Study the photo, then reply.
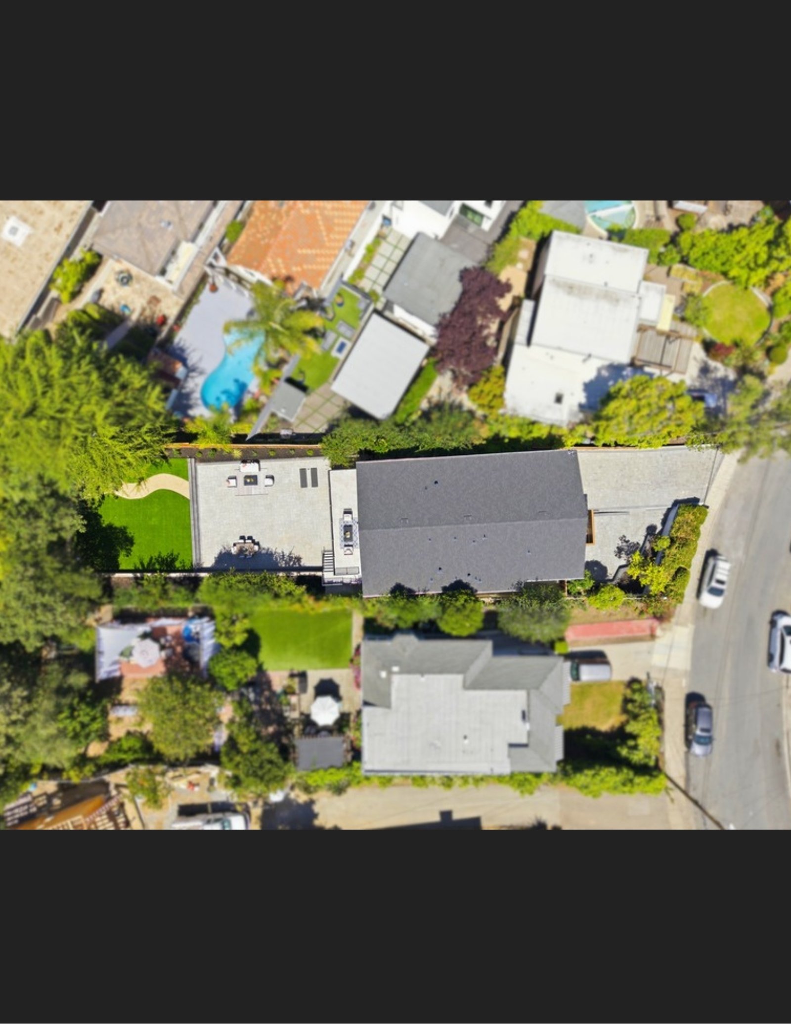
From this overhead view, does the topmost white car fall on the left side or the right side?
right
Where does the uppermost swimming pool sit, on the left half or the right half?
right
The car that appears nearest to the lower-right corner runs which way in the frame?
from top to bottom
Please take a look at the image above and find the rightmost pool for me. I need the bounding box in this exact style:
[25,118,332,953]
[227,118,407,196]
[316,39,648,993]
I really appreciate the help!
[584,199,639,232]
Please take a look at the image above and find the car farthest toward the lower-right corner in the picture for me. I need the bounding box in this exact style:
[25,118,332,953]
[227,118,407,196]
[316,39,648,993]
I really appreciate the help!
[686,700,716,757]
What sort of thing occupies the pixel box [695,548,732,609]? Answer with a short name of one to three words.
car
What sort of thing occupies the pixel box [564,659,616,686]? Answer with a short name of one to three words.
car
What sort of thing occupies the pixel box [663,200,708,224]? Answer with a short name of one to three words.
shed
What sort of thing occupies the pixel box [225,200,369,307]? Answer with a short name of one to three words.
house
